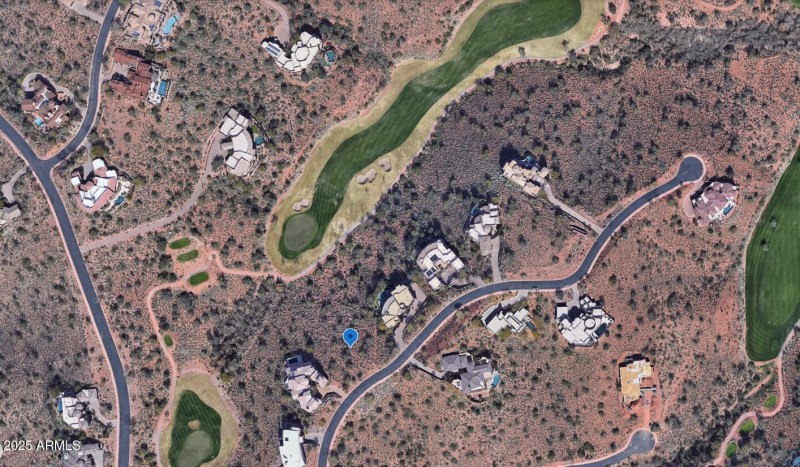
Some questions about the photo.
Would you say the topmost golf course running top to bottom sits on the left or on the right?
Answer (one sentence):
The topmost golf course running top to bottom is on the right side of the image.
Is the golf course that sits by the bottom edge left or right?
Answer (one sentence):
It is on the left.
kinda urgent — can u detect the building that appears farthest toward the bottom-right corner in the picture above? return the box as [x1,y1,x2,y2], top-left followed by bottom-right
[619,357,656,408]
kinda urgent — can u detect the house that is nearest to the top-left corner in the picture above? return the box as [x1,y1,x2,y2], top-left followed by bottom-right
[20,78,73,129]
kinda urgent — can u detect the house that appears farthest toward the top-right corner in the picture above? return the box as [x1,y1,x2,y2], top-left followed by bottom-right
[690,180,739,228]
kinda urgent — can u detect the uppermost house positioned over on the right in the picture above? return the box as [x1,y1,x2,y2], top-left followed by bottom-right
[501,155,552,198]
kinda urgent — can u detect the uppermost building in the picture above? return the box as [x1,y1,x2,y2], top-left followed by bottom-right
[123,0,184,44]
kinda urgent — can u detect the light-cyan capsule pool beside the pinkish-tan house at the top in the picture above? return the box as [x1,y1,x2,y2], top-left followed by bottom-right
[162,16,180,34]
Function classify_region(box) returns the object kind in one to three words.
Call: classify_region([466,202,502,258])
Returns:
house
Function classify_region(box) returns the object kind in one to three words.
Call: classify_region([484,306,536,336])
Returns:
house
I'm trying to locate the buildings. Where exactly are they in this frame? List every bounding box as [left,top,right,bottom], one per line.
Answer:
[440,351,501,397]
[484,306,536,336]
[261,30,324,77]
[20,78,73,129]
[109,48,166,103]
[278,426,307,467]
[69,156,131,215]
[123,0,184,44]
[466,202,502,258]
[62,442,101,467]
[501,155,552,198]
[218,105,266,178]
[690,180,739,228]
[619,357,656,408]
[416,237,466,290]
[57,387,100,428]
[380,283,416,330]
[555,294,614,348]
[0,202,23,226]
[285,353,330,412]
